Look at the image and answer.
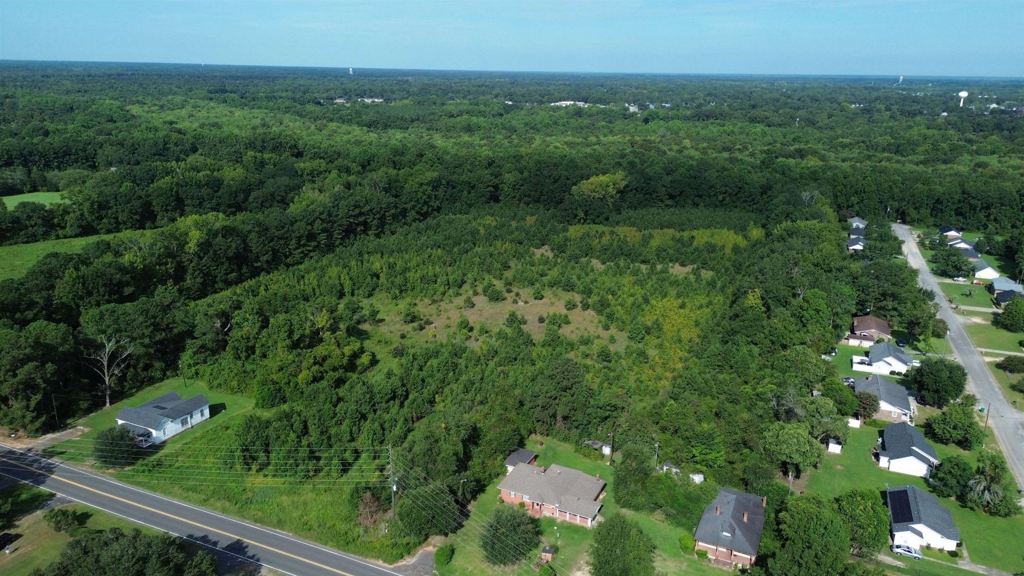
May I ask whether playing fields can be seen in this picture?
No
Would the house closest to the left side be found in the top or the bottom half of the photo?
bottom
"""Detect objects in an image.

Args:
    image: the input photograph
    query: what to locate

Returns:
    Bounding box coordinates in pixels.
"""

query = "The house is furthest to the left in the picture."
[112,392,214,447]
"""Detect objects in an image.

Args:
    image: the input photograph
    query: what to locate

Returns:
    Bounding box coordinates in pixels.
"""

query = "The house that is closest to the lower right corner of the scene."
[886,479,968,549]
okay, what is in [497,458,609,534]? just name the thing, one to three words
house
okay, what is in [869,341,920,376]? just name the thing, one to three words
house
